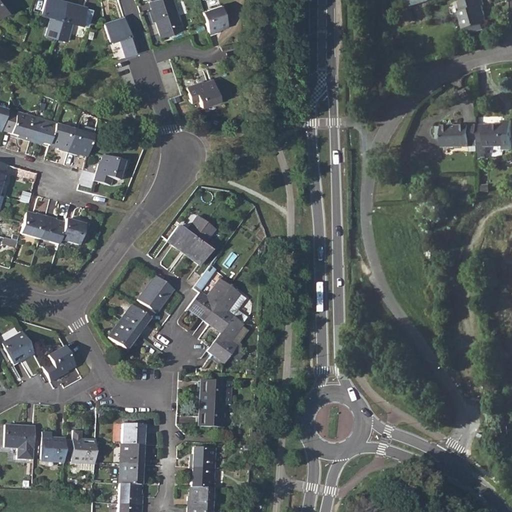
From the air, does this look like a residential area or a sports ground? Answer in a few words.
residential area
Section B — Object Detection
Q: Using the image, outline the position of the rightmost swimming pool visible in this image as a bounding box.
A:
[222,250,238,276]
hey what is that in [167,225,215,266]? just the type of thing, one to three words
house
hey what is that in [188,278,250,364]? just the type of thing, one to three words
house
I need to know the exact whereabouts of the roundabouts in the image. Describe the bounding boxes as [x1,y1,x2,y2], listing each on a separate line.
[301,375,424,512]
